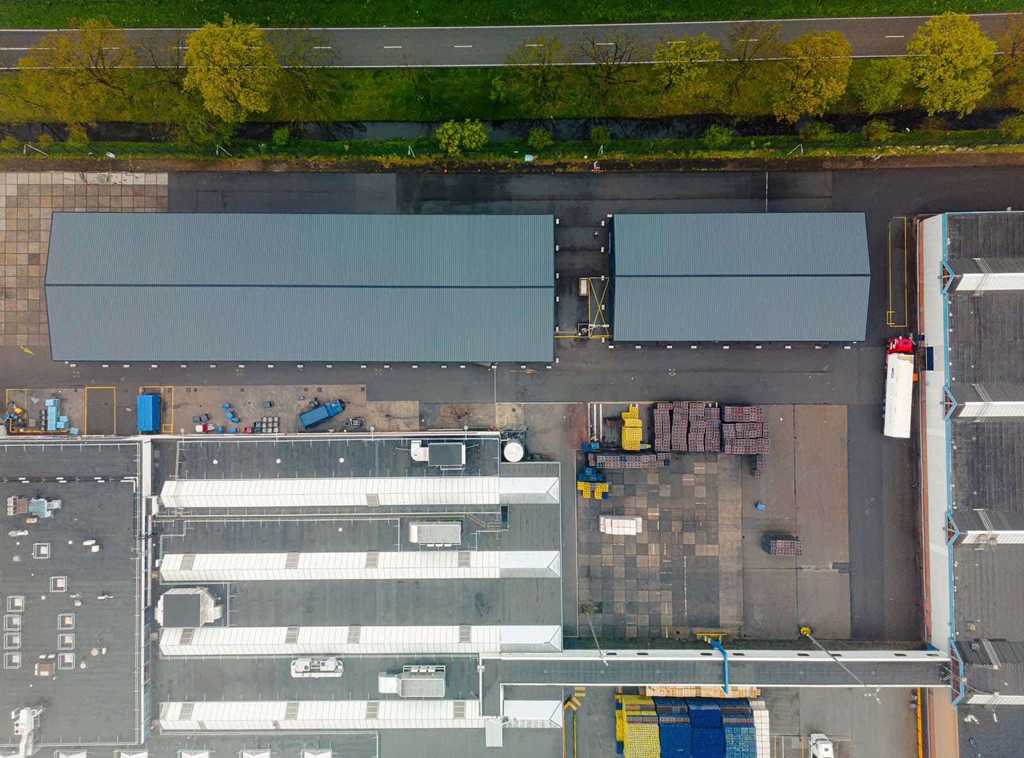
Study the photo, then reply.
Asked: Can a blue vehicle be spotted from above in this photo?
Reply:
Yes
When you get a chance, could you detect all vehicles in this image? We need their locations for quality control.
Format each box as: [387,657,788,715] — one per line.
[881,337,912,438]
[342,417,367,427]
[807,725,832,758]
[298,400,342,427]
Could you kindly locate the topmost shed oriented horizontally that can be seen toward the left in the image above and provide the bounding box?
[44,211,555,363]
